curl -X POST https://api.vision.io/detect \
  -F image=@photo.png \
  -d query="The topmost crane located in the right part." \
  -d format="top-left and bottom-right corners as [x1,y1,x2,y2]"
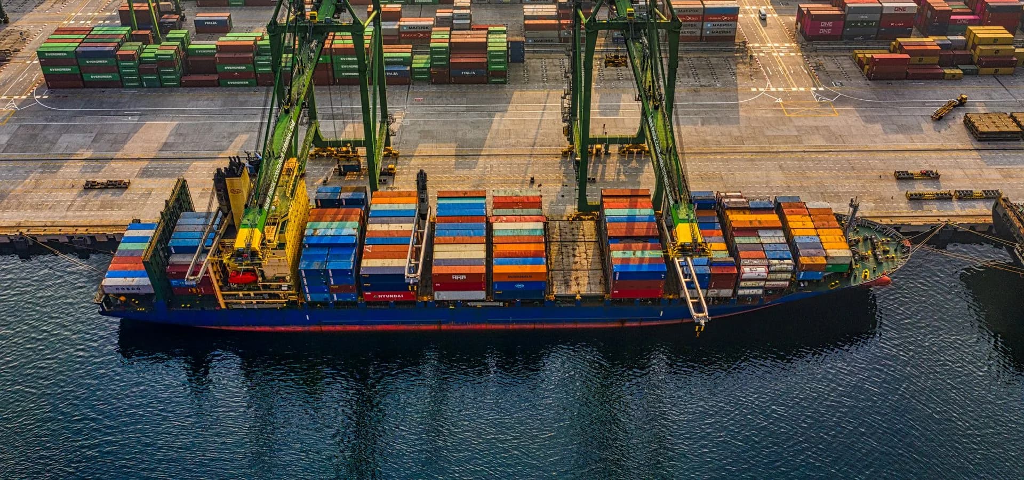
[560,0,732,257]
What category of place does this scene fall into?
port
